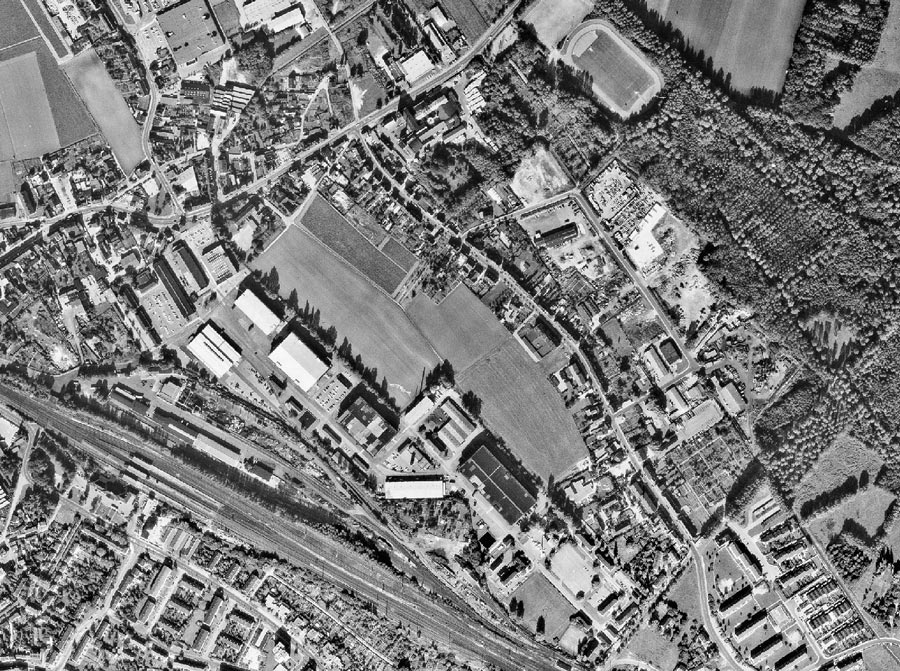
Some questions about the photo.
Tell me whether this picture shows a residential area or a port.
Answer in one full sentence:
This looks like a residential area.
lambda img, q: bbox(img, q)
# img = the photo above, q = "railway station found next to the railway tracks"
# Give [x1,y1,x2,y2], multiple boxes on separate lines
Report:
[80,443,212,516]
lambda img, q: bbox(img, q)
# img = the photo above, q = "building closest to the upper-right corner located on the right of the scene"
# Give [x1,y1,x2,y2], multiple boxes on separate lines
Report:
[644,203,667,233]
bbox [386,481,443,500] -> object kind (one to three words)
building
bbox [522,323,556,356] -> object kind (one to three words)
greenhouse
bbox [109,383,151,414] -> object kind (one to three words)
shed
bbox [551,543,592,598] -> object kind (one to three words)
sports field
